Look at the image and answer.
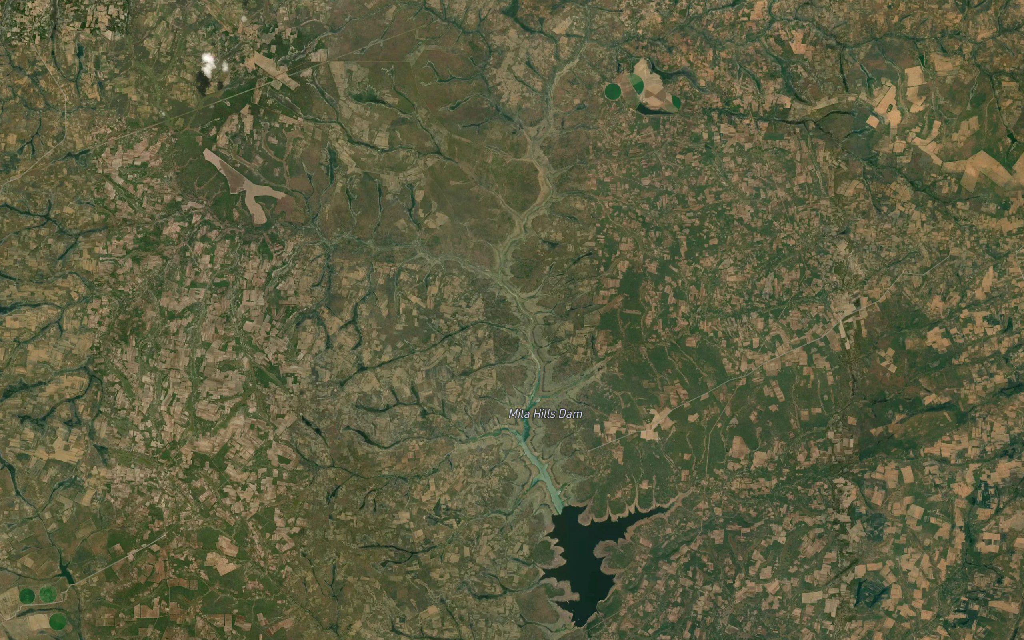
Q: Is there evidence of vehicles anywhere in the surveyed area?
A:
No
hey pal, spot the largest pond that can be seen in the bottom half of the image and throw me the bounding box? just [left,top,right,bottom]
[540,504,673,627]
